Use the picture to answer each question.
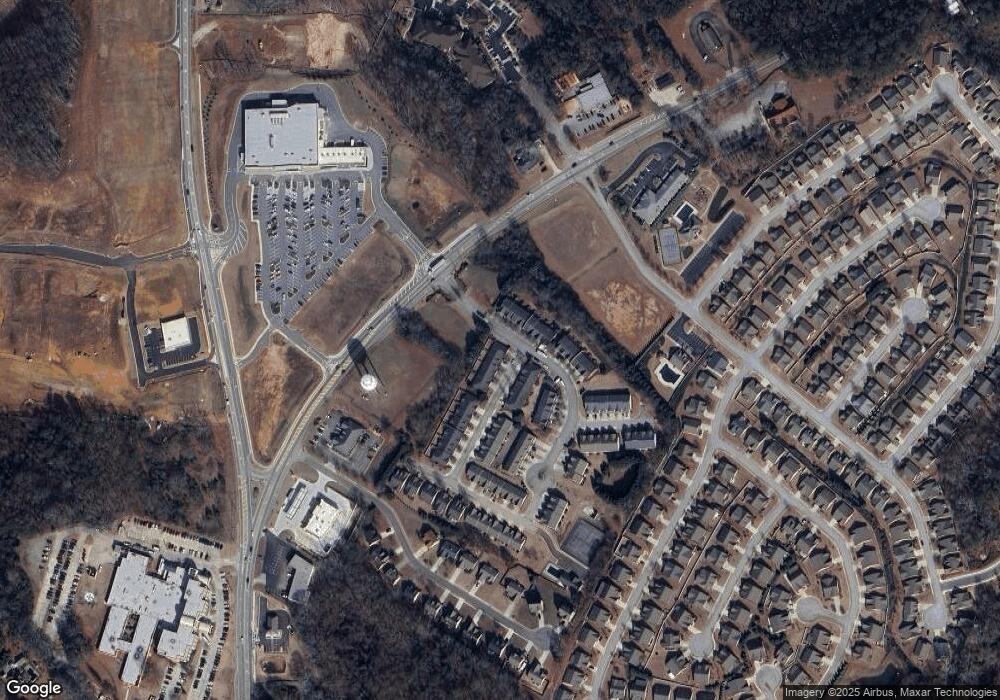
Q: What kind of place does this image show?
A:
residential area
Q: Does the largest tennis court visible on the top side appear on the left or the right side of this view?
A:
right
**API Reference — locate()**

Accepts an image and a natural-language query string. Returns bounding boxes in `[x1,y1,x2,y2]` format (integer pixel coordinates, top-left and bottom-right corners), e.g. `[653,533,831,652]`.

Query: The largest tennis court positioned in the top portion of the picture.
[658,226,682,265]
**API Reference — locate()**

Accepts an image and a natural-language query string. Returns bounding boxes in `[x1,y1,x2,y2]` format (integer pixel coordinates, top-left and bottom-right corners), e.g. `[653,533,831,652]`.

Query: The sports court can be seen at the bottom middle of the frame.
[562,518,604,566]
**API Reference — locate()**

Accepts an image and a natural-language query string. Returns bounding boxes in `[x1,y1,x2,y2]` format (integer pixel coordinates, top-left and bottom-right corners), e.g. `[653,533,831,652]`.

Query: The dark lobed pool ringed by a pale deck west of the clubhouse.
[655,359,684,389]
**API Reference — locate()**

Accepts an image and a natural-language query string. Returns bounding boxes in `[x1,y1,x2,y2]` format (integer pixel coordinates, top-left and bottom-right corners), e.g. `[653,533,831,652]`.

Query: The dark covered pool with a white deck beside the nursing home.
[674,202,697,226]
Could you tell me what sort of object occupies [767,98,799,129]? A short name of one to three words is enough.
barn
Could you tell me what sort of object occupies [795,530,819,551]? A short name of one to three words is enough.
house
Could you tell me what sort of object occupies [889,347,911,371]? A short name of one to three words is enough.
house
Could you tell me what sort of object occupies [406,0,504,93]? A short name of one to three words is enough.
building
